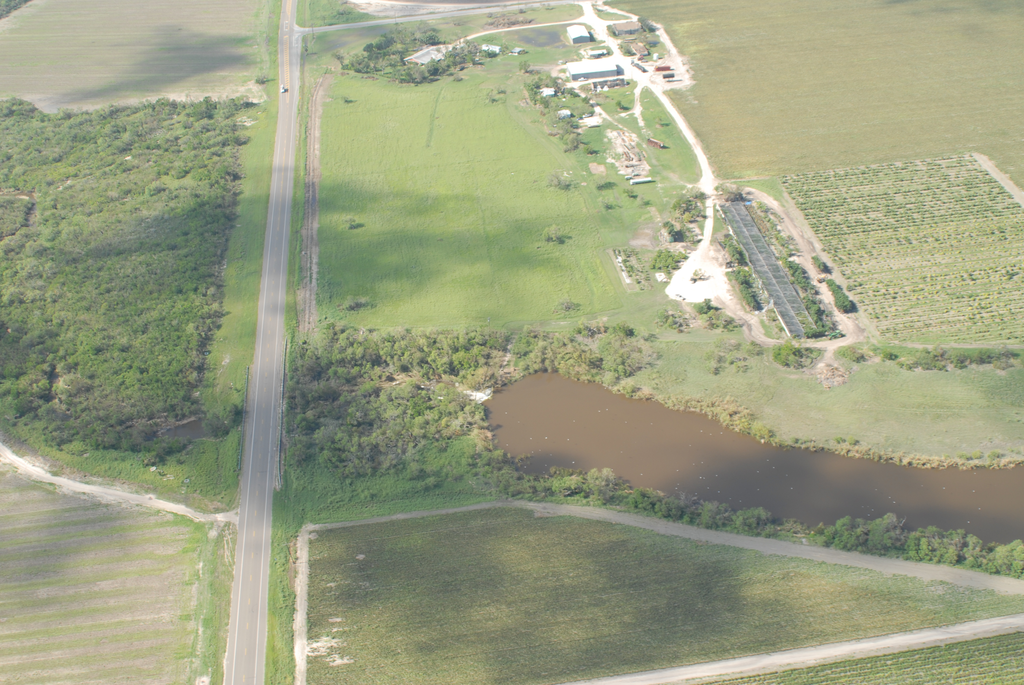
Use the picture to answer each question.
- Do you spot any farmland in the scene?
Yes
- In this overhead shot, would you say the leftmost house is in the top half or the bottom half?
top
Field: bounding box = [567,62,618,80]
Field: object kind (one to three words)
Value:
shed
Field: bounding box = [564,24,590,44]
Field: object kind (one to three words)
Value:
barn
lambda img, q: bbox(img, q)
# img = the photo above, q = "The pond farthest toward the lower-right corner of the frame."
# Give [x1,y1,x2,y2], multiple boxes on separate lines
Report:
[486,372,1024,553]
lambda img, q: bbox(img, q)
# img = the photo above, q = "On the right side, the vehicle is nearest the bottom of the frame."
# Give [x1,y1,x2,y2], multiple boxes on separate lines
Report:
[825,328,842,340]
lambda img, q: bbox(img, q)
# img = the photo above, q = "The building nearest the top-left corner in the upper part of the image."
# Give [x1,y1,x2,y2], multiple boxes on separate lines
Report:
[404,40,463,67]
